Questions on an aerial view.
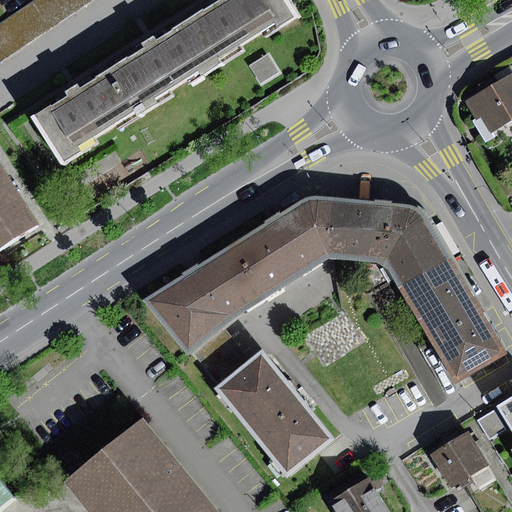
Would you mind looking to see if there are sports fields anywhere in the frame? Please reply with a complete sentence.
No, I find no sports field anywhere in the image.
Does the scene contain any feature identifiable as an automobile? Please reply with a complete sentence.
Yes, there's an automobile down there.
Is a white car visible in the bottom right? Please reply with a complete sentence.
Yes, a white car shows up in the bottom right.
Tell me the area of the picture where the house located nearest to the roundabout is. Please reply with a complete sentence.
The house located nearest to the roundabout is in the top right part of the image.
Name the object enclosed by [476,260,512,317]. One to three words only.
bus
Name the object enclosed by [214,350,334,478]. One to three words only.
house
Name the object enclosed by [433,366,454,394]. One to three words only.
vehicle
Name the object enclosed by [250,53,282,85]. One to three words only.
building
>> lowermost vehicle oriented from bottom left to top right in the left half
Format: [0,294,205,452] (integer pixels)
[146,360,168,378]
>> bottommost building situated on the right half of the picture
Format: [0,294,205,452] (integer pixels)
[332,478,390,512]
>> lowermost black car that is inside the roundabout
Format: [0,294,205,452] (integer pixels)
[418,64,433,89]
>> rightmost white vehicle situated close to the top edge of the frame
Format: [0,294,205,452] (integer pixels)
[445,20,468,38]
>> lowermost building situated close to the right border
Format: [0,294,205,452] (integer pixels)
[430,431,496,492]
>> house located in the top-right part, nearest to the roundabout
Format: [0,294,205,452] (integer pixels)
[466,71,512,142]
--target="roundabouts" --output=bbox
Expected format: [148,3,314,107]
[323,18,454,154]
